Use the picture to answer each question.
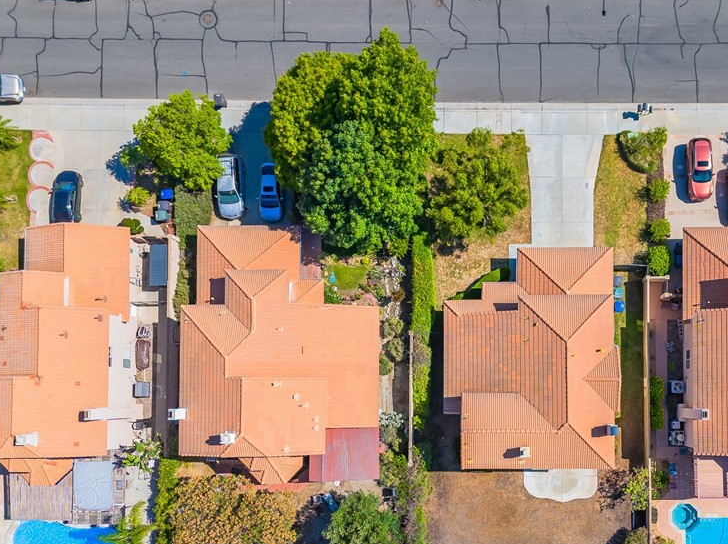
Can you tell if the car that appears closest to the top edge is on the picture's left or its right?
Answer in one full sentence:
It is on the left.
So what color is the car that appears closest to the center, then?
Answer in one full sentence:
The car that appears closest to the center is blue.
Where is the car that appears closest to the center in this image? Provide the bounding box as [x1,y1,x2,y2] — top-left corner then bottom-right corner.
[254,164,286,225]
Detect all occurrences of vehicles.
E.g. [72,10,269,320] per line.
[0,72,31,107]
[48,171,87,225]
[254,164,286,225]
[213,153,247,220]
[683,139,715,204]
